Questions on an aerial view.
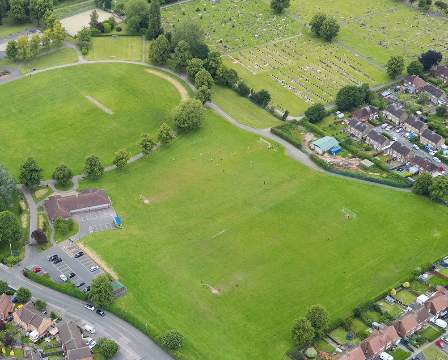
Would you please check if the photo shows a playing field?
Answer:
Yes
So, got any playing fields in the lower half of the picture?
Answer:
Yes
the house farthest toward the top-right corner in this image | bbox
[428,67,448,91]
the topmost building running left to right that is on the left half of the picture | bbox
[45,192,118,231]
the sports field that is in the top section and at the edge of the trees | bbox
[83,36,142,60]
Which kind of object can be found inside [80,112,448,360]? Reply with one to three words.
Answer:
sports field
